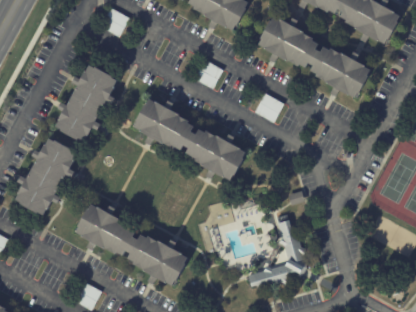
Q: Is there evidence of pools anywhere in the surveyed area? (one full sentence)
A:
Yes, you can see a pool in this photo.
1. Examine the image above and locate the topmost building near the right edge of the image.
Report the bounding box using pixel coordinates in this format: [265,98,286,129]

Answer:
[300,0,400,44]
